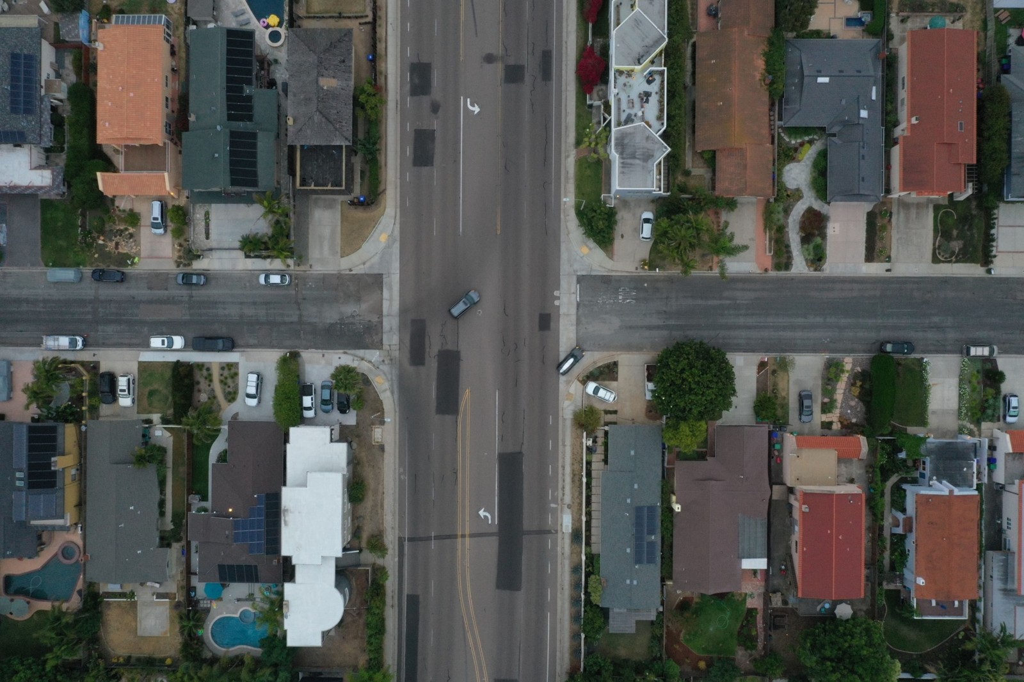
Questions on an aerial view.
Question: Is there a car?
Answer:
Yes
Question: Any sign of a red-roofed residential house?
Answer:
Yes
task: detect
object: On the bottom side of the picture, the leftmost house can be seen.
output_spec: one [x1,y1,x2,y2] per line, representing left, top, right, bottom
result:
[0,422,86,560]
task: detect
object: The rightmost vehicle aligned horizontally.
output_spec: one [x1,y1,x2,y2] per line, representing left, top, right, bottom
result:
[961,344,997,358]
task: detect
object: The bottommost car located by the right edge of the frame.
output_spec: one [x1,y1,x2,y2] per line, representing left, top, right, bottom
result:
[1003,393,1020,423]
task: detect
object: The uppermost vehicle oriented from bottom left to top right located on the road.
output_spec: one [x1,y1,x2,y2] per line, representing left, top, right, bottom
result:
[448,290,480,318]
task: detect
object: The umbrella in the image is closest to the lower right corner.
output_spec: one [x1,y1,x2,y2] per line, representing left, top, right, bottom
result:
[832,601,851,619]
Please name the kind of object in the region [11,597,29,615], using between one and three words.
umbrella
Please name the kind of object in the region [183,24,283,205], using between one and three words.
house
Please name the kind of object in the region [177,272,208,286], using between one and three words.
car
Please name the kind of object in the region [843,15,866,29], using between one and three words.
swimming pool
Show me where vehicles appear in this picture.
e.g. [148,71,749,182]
[798,390,813,423]
[260,272,291,286]
[879,341,913,355]
[151,335,186,349]
[177,272,208,286]
[150,201,167,234]
[99,371,117,404]
[555,346,584,375]
[640,211,653,241]
[0,204,10,246]
[1003,393,1020,423]
[48,269,83,282]
[302,382,316,418]
[961,344,997,358]
[119,374,136,405]
[584,380,617,403]
[448,290,480,318]
[41,335,87,351]
[319,380,333,412]
[245,371,262,406]
[92,268,127,283]
[193,336,235,352]
[336,390,351,416]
